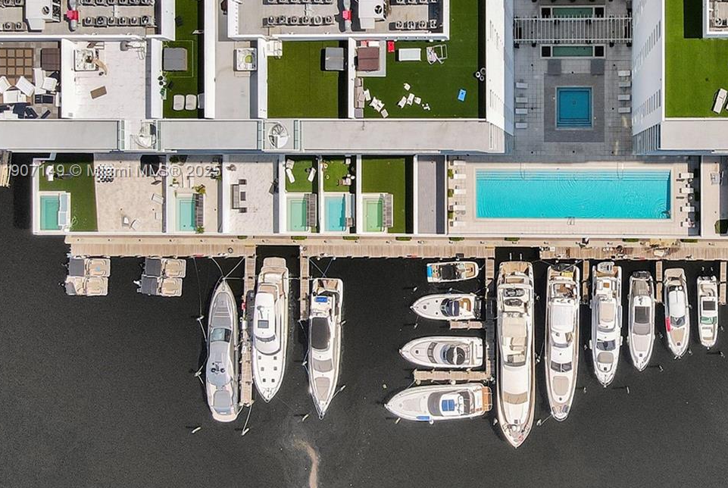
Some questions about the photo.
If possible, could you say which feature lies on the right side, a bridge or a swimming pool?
swimming pool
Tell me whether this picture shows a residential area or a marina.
marina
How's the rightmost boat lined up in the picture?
up and down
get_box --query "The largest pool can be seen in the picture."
[471,163,676,224]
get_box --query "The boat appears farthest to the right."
[696,267,719,348]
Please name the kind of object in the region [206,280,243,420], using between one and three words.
boat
